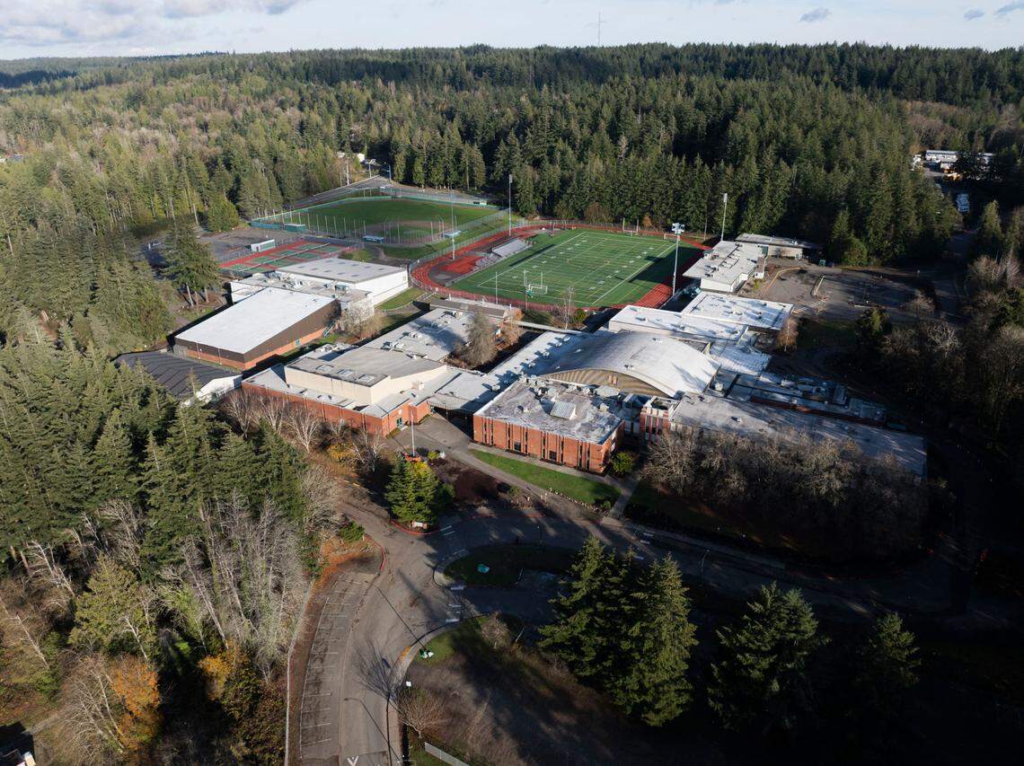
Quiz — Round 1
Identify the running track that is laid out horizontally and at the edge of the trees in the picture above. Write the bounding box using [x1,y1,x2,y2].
[405,224,704,313]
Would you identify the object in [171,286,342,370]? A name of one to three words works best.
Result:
building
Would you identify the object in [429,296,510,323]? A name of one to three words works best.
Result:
building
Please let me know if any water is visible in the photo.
No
